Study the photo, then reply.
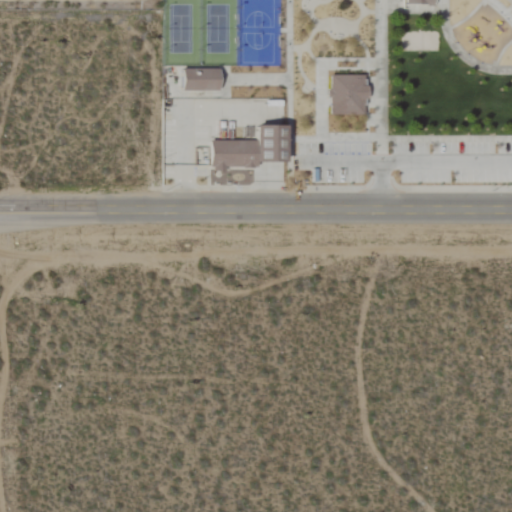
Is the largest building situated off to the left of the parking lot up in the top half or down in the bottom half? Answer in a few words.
top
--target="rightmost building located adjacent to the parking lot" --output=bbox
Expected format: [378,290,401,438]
[329,74,372,114]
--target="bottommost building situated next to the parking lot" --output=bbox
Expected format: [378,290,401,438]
[212,126,291,171]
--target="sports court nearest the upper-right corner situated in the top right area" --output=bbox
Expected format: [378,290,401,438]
[402,29,440,52]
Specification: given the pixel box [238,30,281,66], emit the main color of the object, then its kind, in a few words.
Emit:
blue basketball court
